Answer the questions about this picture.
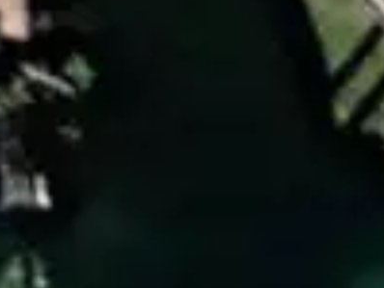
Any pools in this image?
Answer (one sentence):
No, the photo shows no pool.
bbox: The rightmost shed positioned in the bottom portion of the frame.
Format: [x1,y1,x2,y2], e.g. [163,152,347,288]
[37,174,68,214]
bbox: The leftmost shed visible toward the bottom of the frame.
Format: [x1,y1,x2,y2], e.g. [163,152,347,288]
[0,172,51,212]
